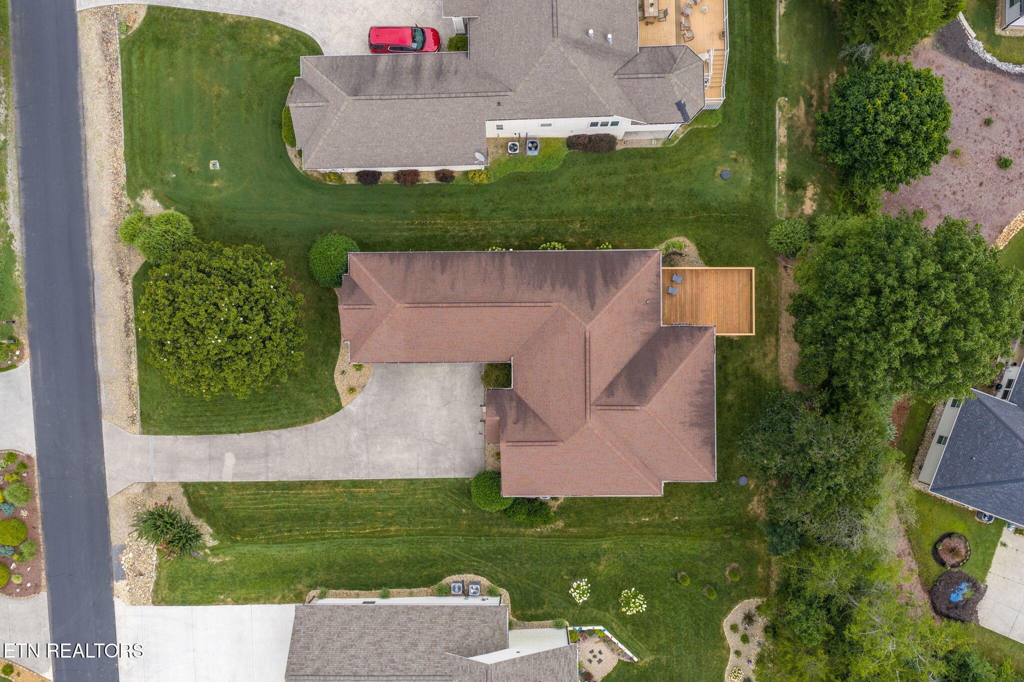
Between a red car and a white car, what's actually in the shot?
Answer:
red car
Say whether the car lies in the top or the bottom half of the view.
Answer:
top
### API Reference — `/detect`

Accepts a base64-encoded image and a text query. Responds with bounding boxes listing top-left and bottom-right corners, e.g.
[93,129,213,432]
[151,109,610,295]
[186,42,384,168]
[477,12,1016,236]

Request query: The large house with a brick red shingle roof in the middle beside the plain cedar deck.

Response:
[338,248,718,499]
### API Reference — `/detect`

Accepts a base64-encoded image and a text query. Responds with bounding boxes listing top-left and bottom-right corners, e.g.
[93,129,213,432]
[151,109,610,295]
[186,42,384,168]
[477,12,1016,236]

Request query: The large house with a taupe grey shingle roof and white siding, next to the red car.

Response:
[289,0,707,176]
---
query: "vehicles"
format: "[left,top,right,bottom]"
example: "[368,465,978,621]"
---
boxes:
[370,21,441,55]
